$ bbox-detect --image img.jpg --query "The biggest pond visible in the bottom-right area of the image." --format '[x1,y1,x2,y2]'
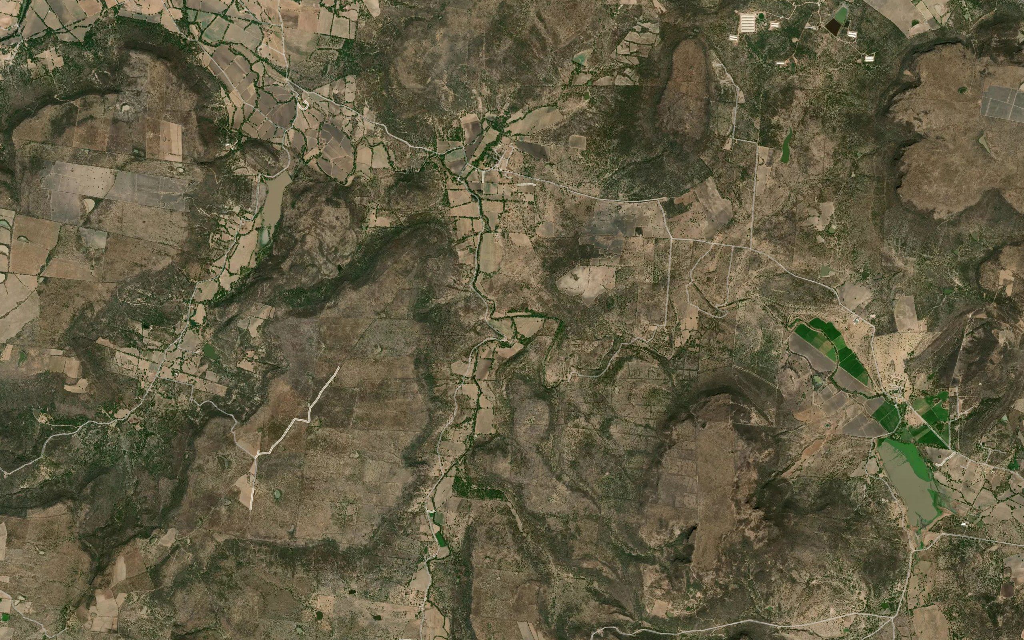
[877,441,936,528]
